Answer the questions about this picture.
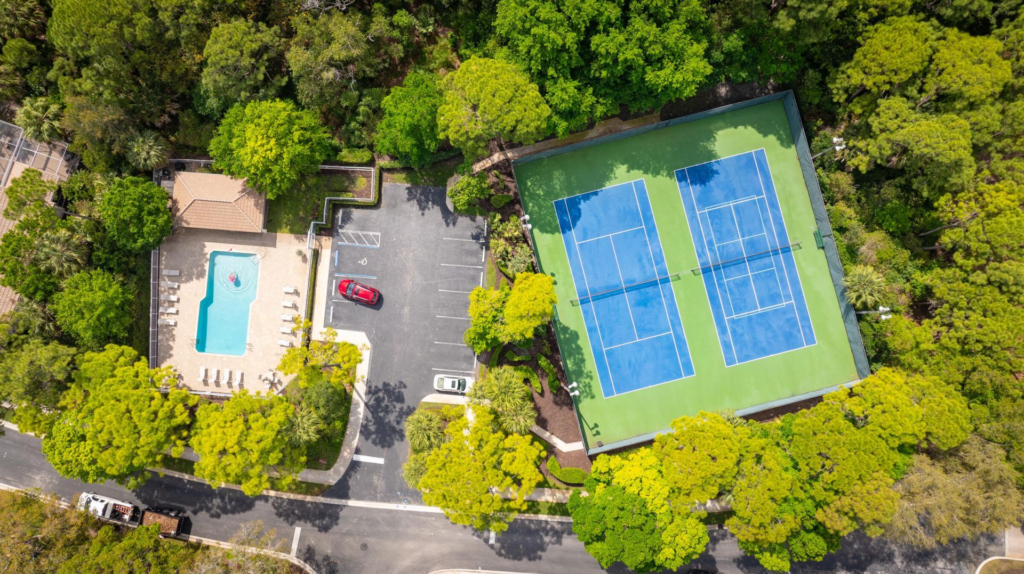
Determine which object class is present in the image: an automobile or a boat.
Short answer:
automobile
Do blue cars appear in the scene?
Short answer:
No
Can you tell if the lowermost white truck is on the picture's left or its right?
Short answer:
left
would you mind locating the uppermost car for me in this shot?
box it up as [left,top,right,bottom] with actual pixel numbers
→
[339,281,379,305]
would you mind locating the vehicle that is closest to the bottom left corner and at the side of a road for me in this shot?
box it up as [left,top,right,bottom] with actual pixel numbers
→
[78,492,137,525]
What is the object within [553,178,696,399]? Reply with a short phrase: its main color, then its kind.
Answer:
blue tennis court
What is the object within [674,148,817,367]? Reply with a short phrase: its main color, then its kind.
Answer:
blue tennis court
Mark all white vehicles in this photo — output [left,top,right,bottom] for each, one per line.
[433,374,476,394]
[78,492,137,525]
